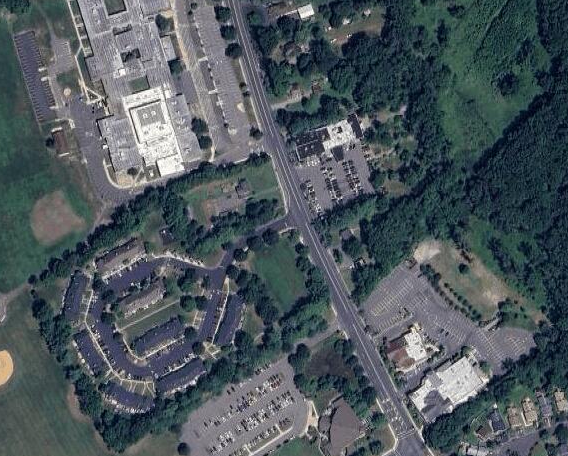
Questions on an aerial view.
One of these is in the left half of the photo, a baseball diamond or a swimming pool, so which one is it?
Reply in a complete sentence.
It is a baseball diamond that can be seen in the left half of the photo.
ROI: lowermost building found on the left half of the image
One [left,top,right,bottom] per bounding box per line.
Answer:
[102,380,156,412]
